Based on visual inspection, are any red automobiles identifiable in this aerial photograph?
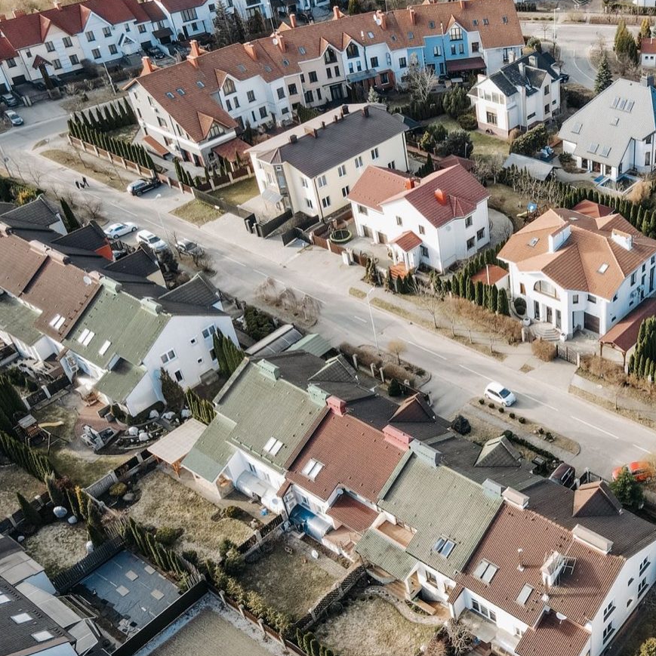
Yes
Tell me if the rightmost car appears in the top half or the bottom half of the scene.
bottom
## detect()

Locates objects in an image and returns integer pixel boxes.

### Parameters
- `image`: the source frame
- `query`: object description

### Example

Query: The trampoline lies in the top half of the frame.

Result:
[329,228,353,242]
